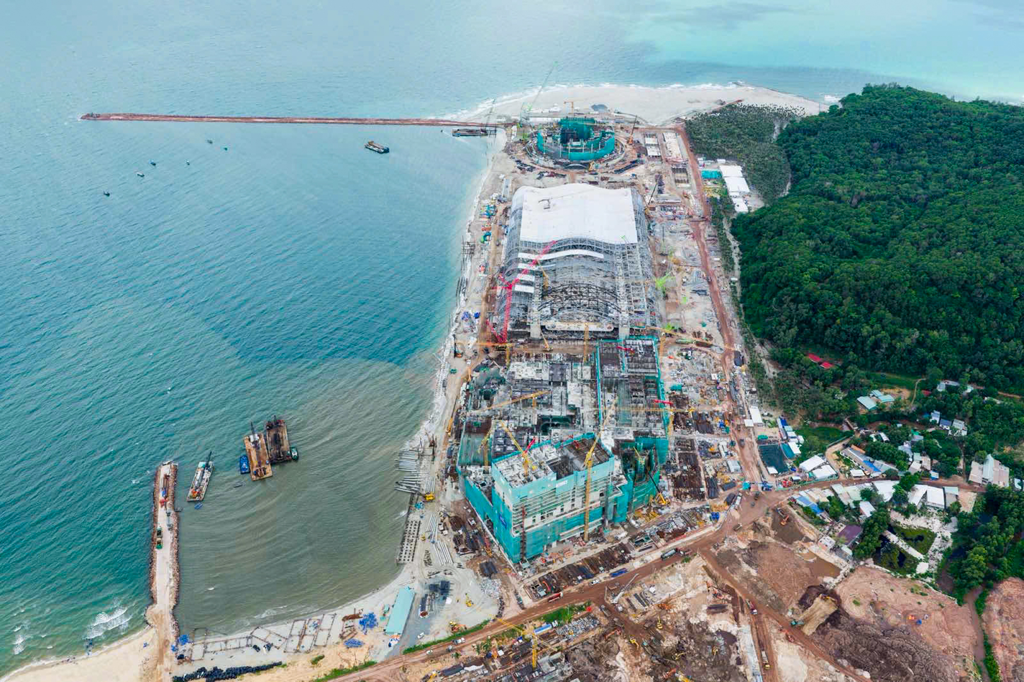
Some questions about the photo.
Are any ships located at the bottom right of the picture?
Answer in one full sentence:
No, there's no ship to be seen at the bottom right of the picture.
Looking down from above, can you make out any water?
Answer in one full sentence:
Yes, some water is visible.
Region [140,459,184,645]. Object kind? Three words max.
pier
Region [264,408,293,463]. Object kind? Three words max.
ship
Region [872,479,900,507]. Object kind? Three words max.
building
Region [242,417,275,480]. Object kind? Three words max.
ship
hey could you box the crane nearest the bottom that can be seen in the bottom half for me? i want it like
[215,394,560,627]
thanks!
[495,616,561,670]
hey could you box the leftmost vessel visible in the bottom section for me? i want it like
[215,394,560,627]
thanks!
[184,445,216,499]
